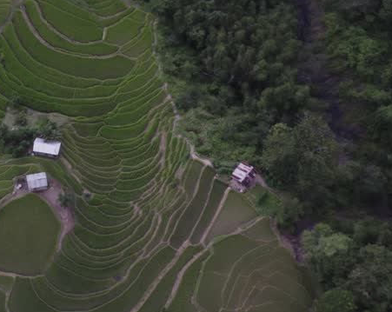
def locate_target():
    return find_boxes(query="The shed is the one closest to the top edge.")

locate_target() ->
[34,138,62,159]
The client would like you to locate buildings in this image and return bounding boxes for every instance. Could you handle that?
[229,162,260,188]
[34,138,62,159]
[26,173,49,195]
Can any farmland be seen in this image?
Yes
